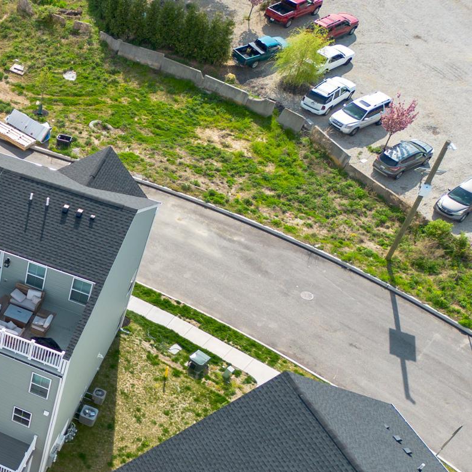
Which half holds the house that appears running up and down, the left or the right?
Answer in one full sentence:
The house that appears running up and down sits on the left side.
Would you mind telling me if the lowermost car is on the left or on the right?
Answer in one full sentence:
The lowermost car sits on the right side.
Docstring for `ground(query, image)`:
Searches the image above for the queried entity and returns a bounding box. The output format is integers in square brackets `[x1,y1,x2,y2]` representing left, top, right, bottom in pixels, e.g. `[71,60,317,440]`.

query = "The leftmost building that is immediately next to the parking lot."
[0,145,159,472]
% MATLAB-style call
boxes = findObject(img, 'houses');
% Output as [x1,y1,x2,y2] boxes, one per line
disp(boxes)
[0,145,159,472]
[122,371,447,472]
